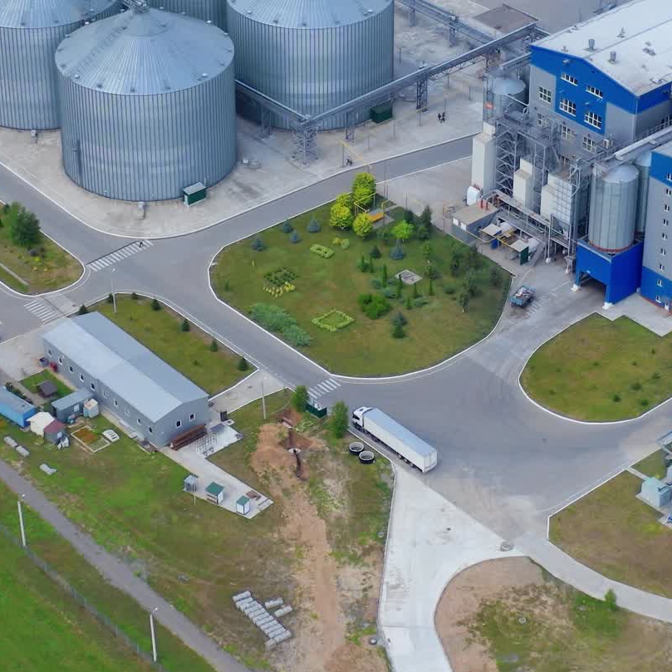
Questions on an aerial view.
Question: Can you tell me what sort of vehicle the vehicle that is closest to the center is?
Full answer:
Looking closely, the vehicle that is closest to the center is a truck.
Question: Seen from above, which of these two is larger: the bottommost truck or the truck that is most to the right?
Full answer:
The bottommost truck takes up more space than the truck that is most to the right.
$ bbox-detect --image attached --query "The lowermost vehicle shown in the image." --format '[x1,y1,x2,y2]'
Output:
[344,403,437,472]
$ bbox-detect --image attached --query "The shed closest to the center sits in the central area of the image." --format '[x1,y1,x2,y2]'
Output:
[308,389,335,416]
